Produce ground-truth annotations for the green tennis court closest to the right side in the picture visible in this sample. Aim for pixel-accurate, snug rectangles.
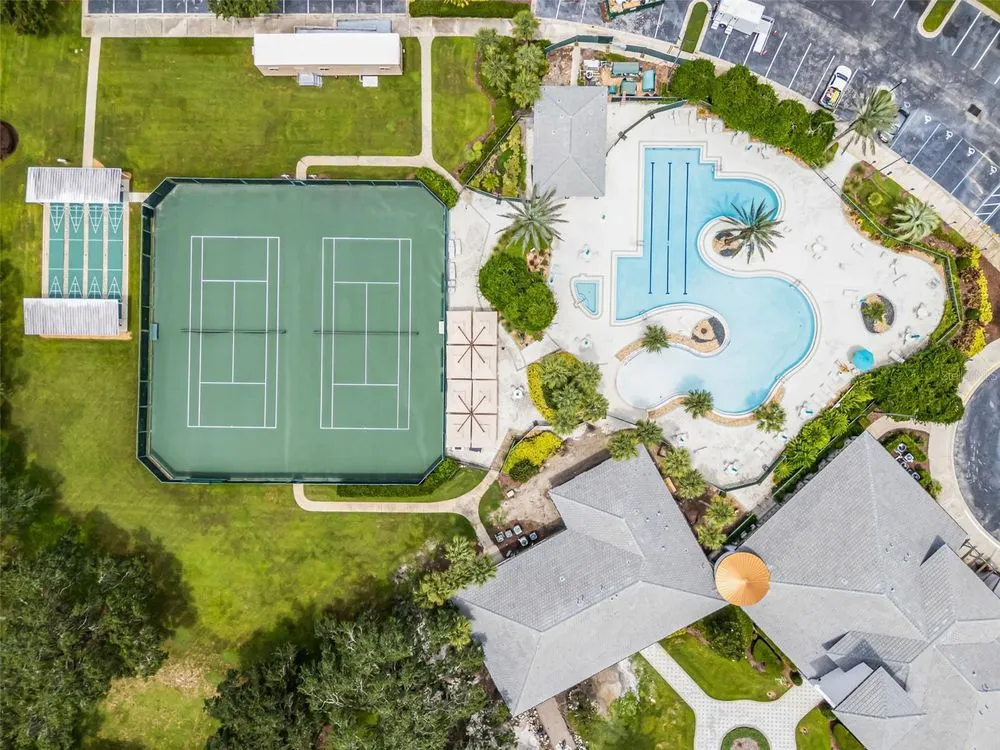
[300,187,446,480]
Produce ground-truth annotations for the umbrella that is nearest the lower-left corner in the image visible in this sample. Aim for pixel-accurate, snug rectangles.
[445,378,498,448]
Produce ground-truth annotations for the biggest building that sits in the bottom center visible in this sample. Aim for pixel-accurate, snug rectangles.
[453,444,725,717]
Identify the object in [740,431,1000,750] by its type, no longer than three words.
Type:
building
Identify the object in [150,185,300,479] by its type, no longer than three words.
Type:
tennis court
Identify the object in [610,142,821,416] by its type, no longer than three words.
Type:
swimming pool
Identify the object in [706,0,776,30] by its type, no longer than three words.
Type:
truck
